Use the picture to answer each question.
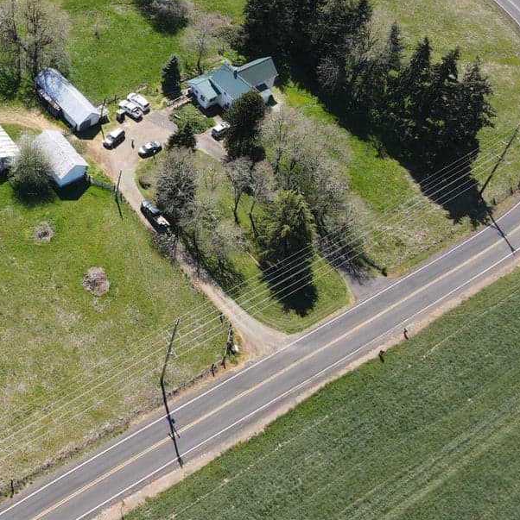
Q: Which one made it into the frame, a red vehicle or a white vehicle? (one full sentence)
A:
The one in the frame is a white vehicle.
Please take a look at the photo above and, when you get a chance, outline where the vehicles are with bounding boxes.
[129,93,151,110]
[118,100,143,118]
[138,142,162,156]
[142,204,170,230]
[104,128,127,147]
[208,122,227,137]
